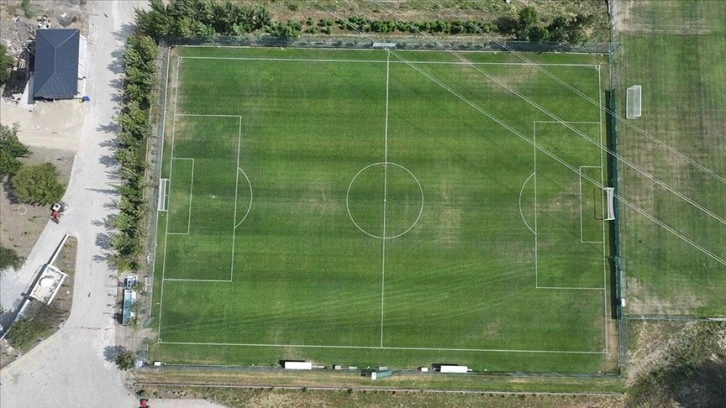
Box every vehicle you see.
[50,199,69,224]
[140,399,151,408]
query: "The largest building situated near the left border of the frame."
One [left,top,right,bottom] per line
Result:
[33,29,85,101]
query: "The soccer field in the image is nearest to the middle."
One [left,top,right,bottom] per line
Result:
[147,48,619,375]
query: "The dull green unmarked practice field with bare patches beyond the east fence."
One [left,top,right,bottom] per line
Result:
[617,0,726,319]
